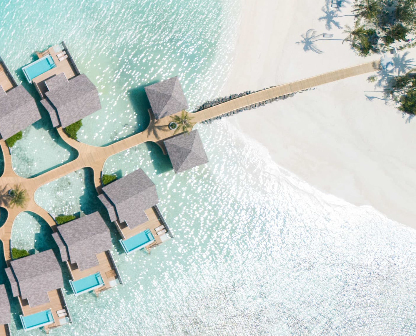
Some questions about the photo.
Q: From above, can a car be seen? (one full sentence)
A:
No, the photo shows no car.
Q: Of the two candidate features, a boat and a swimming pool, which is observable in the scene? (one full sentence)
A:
The one in the frame is a swimming pool.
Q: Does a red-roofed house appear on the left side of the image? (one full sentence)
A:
No, looking on the left side of the image, there is no red-roofed house.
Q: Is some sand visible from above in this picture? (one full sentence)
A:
Yes, sand shows up in the scene.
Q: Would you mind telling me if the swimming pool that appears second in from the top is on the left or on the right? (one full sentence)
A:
You can find the swimming pool that appears second in from the top on the left side of the picture.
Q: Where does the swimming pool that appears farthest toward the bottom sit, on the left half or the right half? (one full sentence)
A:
The swimming pool that appears farthest toward the bottom appears in the left half of the scene.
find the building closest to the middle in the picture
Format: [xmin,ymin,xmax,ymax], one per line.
[163,129,209,174]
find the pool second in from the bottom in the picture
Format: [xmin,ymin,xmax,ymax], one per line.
[68,271,104,295]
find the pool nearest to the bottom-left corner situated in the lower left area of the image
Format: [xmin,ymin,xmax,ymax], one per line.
[19,308,54,330]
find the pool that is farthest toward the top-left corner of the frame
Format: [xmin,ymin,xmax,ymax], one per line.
[21,55,55,85]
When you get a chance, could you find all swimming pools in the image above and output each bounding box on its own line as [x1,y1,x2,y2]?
[117,228,153,254]
[19,308,54,330]
[21,55,55,85]
[68,271,104,295]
